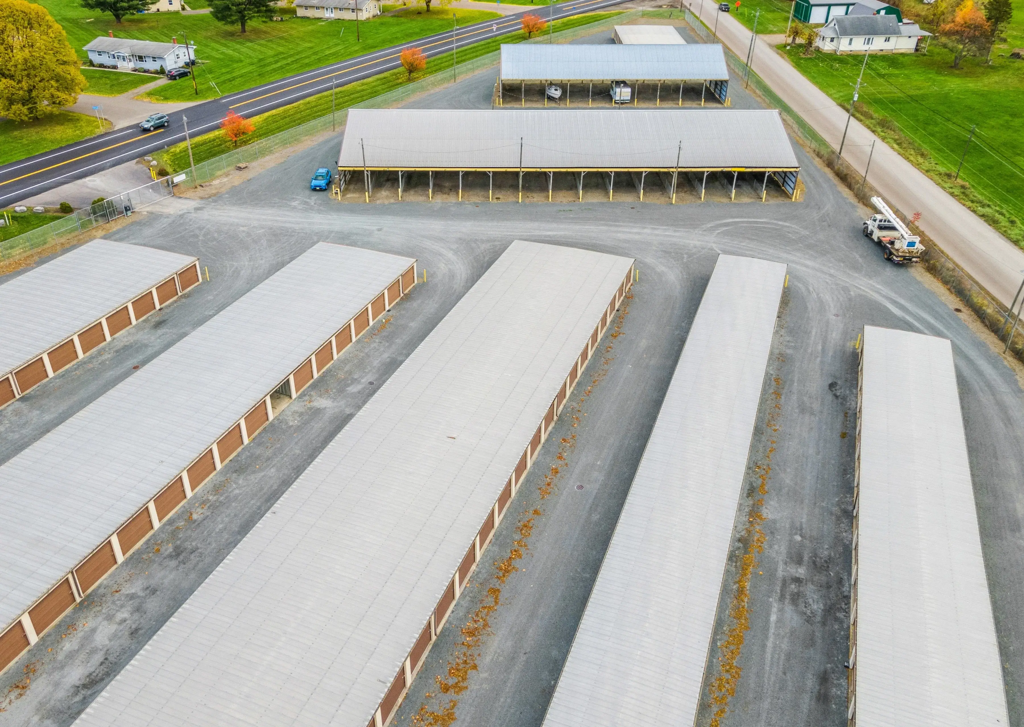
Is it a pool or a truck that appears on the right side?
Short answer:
truck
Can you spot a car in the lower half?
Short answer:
No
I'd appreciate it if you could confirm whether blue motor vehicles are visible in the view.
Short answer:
Yes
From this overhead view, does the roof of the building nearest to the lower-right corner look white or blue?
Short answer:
white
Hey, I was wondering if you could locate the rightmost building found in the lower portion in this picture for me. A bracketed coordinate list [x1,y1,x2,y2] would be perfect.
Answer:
[838,325,1010,727]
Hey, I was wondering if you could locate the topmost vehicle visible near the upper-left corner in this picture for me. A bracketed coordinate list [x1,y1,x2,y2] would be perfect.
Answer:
[166,66,191,79]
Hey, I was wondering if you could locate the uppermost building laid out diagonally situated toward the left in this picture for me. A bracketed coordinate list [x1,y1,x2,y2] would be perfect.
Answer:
[0,238,201,416]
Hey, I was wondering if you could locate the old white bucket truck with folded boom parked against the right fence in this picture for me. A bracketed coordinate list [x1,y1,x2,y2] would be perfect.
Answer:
[864,197,927,267]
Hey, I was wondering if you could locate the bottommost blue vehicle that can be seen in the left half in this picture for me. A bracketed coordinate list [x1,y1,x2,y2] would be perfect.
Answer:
[310,167,332,189]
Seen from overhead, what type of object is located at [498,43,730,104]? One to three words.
shed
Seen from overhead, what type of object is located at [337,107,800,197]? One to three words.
shed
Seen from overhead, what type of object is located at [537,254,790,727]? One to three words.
building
